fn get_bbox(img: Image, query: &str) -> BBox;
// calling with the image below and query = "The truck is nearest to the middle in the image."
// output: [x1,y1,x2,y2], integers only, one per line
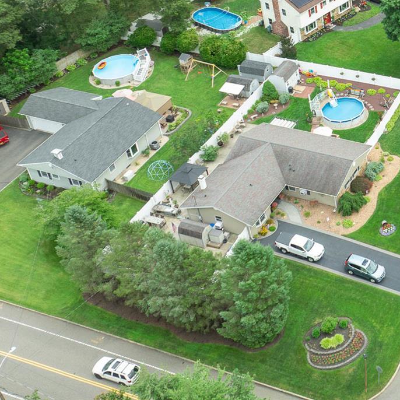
[272,231,327,260]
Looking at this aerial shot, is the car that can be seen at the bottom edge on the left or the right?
left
